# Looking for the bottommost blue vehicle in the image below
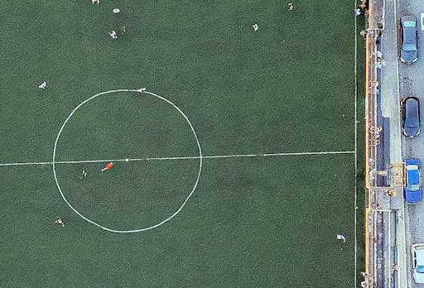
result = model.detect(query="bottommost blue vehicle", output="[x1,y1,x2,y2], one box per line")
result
[402,159,424,204]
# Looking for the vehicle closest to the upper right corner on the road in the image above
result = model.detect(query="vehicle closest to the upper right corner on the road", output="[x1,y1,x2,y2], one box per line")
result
[398,16,420,64]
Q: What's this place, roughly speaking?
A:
sports ground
